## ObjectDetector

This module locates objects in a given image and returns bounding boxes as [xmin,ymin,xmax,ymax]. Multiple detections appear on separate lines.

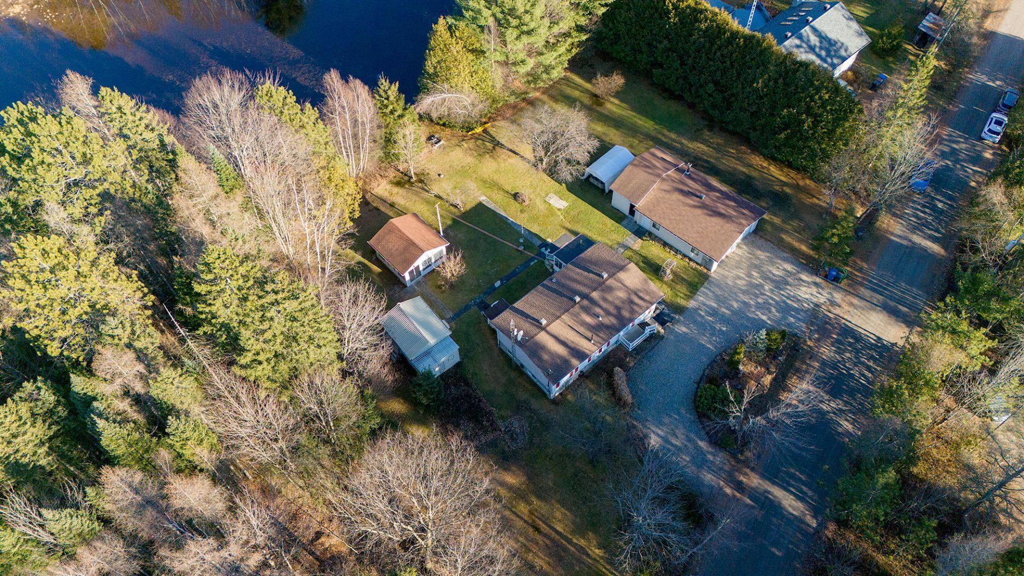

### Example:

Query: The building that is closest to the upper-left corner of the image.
[369,212,449,287]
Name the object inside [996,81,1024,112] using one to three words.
car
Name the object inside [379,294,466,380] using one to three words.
shed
